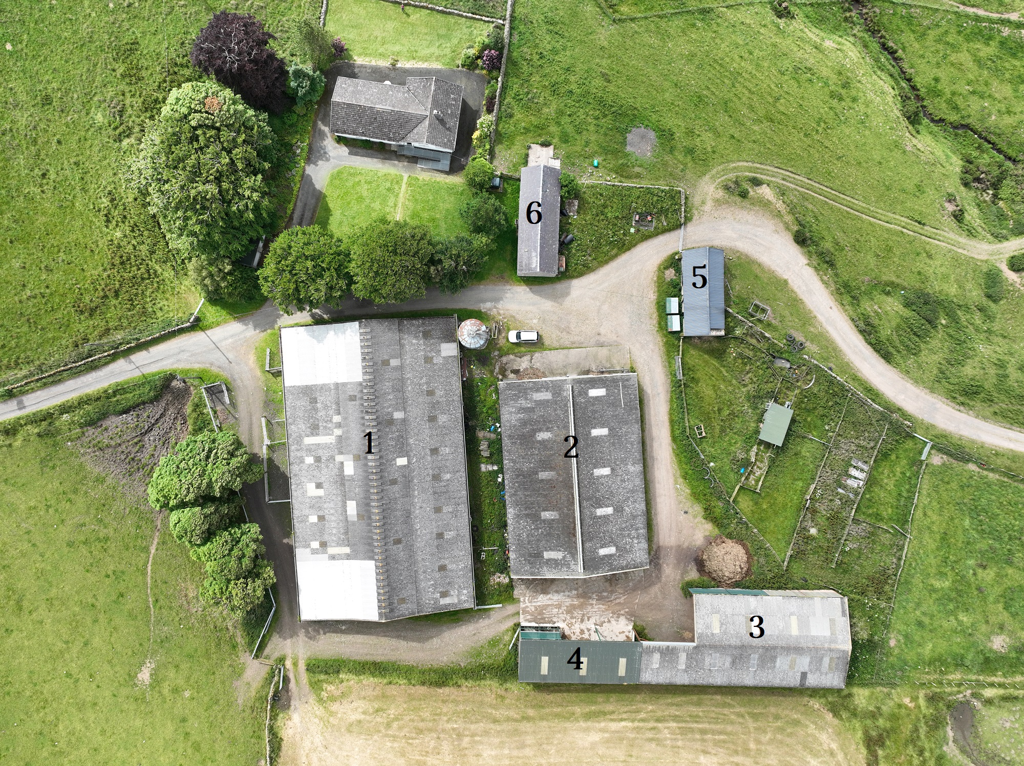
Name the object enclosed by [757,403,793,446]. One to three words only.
shed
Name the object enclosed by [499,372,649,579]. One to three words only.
barn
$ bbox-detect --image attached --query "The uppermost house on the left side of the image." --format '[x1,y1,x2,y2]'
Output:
[330,76,463,172]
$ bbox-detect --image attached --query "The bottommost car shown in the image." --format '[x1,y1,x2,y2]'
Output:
[509,330,538,343]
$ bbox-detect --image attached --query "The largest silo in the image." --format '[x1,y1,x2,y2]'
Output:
[458,319,493,350]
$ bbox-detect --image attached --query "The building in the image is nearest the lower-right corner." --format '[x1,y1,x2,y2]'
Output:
[635,589,853,690]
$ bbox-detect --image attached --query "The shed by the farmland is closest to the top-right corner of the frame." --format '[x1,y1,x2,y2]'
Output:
[679,247,724,336]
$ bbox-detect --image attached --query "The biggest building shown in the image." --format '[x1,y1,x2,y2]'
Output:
[280,314,476,623]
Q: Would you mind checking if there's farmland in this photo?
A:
Yes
